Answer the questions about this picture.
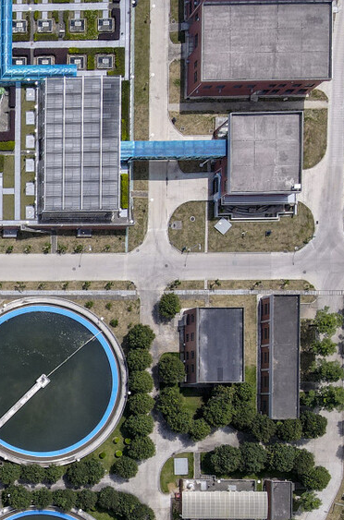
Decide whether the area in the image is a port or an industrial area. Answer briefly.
industrial area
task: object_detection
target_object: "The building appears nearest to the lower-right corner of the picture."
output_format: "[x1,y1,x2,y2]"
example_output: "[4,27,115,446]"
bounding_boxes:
[260,481,293,520]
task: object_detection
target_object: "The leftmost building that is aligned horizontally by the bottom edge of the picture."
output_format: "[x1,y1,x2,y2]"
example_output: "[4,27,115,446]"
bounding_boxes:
[174,479,257,518]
